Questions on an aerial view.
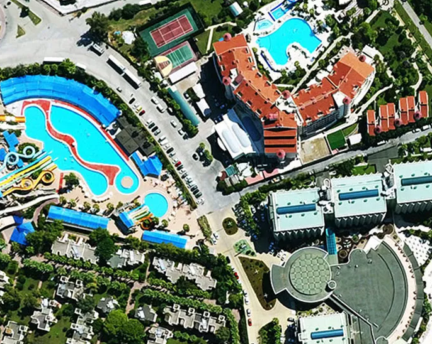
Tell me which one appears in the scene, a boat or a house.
house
